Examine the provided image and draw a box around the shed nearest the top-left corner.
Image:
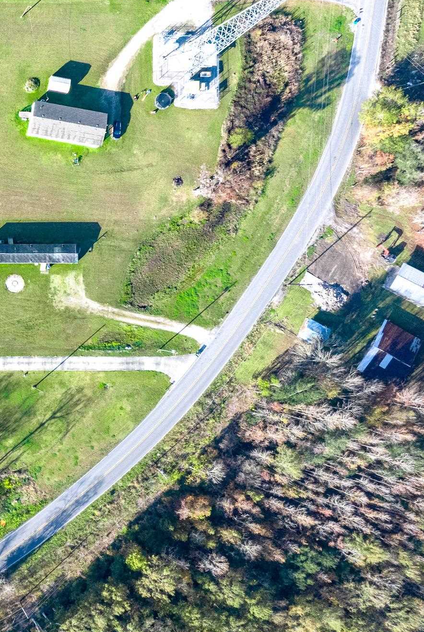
[46,77,71,96]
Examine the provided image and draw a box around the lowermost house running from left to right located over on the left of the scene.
[0,236,78,274]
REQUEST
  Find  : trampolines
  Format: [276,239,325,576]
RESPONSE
[156,90,176,108]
